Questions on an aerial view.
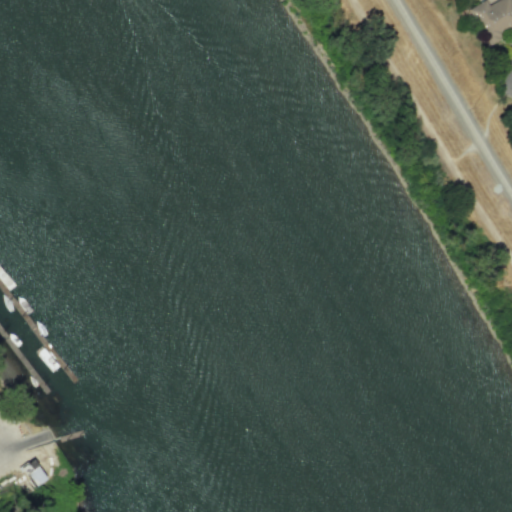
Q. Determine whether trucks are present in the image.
No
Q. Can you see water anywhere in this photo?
Yes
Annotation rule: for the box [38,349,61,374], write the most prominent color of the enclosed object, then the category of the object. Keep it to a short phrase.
white boat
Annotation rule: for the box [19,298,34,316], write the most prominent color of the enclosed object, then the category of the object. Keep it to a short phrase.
white boat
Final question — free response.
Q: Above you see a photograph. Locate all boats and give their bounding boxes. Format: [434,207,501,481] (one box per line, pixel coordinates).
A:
[0,264,16,290]
[19,298,34,316]
[4,295,15,314]
[30,376,40,389]
[38,349,61,374]
[38,321,49,339]
[10,332,24,349]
